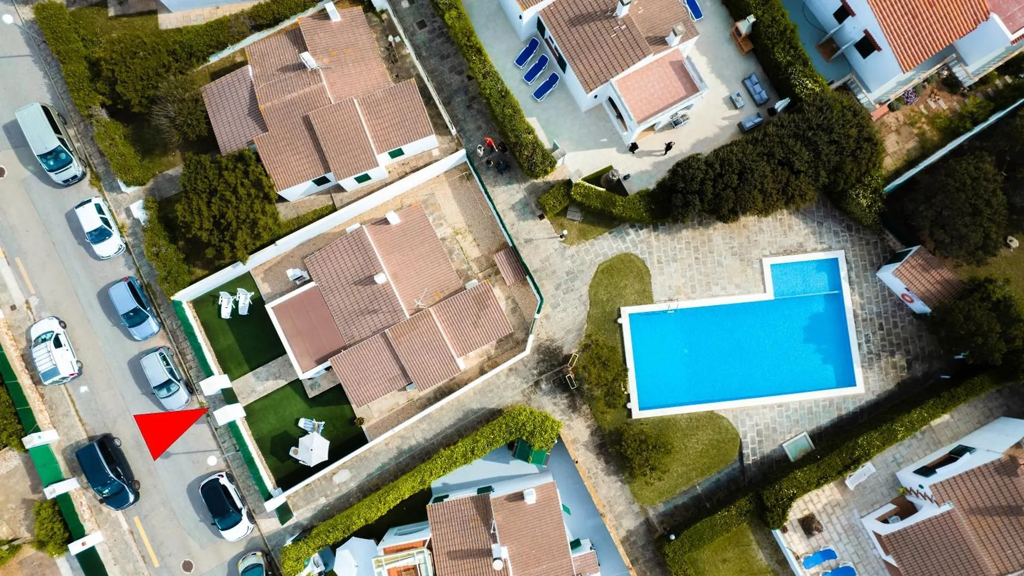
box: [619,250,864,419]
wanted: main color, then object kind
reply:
blue swimming pool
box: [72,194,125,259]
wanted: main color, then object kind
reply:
white car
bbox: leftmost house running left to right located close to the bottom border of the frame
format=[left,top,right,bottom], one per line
[371,464,600,576]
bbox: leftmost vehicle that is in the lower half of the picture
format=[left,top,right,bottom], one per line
[26,317,81,386]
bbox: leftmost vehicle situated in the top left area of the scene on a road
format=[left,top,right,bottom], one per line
[18,107,83,184]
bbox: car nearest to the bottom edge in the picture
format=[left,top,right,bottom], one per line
[240,550,276,576]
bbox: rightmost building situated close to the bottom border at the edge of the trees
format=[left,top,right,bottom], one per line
[860,415,1024,576]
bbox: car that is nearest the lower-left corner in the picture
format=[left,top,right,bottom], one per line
[76,437,135,510]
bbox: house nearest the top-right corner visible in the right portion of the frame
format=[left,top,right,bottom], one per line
[807,0,1024,95]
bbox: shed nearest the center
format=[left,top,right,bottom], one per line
[493,246,527,286]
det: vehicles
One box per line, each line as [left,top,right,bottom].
[240,550,276,576]
[72,194,125,259]
[138,344,190,411]
[26,317,81,386]
[18,107,83,184]
[200,474,250,540]
[76,437,135,510]
[105,276,159,341]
